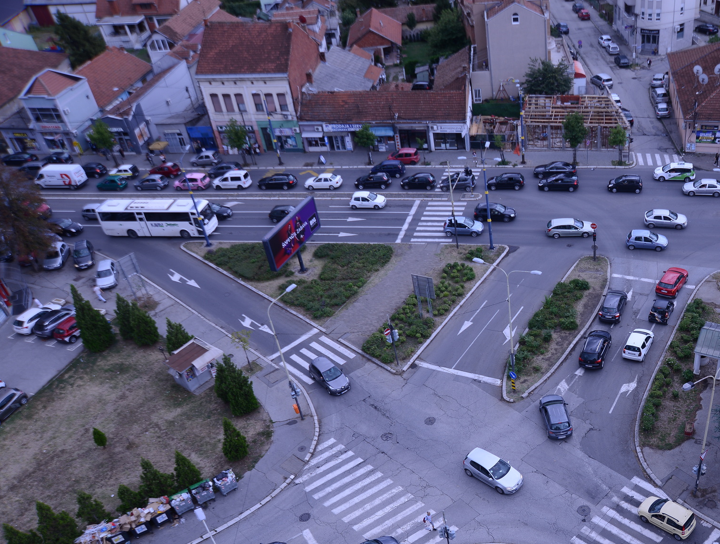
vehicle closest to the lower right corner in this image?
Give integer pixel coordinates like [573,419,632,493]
[637,498,698,541]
